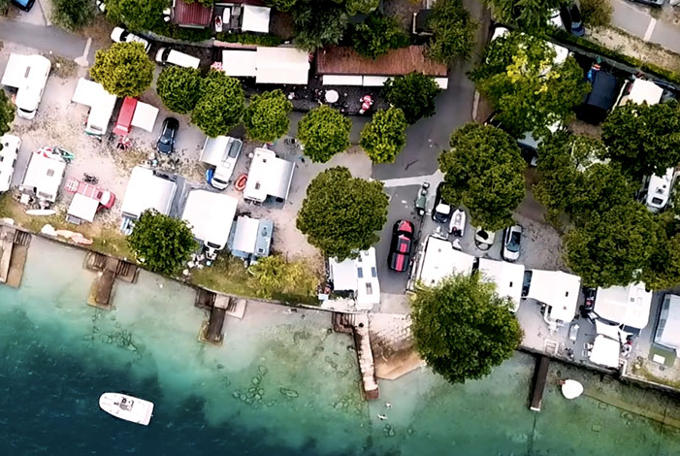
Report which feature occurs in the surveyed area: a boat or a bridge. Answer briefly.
boat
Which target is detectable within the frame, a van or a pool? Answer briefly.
van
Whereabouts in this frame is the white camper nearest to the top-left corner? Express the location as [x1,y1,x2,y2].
[1,53,53,123]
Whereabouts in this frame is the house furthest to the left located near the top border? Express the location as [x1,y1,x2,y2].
[175,0,215,28]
